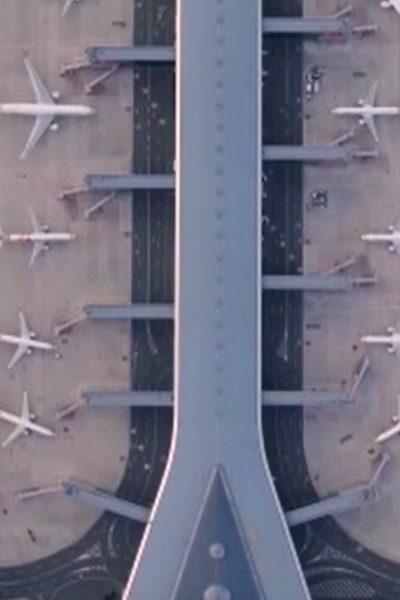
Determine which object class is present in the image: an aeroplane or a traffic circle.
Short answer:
aeroplane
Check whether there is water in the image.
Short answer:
No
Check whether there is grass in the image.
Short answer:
No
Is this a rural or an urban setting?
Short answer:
urban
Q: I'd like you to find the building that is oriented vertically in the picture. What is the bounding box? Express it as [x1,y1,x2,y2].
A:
[124,0,311,600]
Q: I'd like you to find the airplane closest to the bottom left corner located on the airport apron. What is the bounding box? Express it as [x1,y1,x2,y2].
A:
[0,389,55,447]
